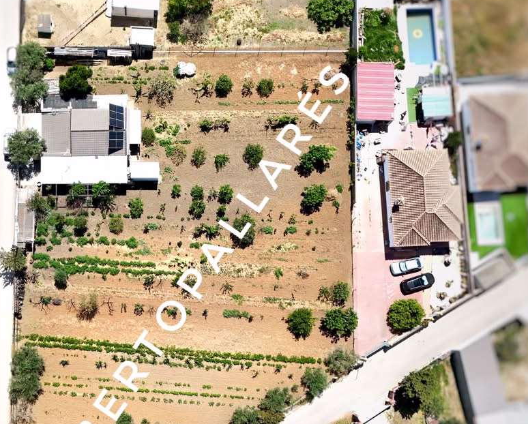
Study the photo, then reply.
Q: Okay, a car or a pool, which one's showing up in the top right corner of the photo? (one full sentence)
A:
What appears in the top right corner of the photo is a pool.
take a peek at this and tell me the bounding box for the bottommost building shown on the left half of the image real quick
[18,202,36,242]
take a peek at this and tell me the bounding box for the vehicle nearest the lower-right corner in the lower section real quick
[399,274,434,294]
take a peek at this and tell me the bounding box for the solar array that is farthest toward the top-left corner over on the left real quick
[109,104,124,128]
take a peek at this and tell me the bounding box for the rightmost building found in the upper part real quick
[461,91,528,191]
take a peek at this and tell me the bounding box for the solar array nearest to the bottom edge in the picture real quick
[109,134,124,150]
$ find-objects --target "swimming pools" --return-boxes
[475,202,505,248]
[398,1,446,76]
